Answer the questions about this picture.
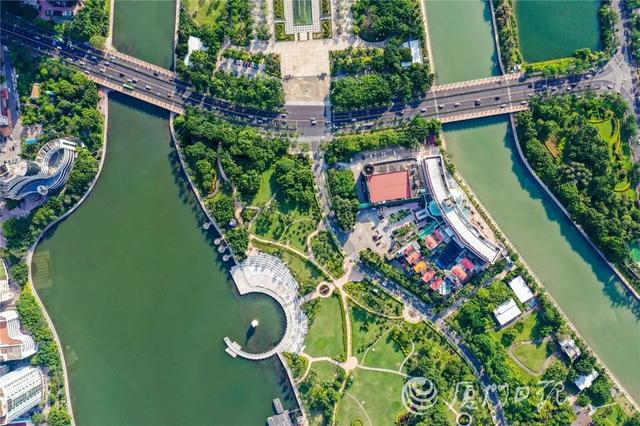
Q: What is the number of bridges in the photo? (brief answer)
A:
two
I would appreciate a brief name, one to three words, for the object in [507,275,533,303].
building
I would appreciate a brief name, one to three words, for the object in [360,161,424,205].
building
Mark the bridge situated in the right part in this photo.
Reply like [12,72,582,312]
[431,75,516,123]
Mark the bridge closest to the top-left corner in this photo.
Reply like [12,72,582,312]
[100,49,182,110]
